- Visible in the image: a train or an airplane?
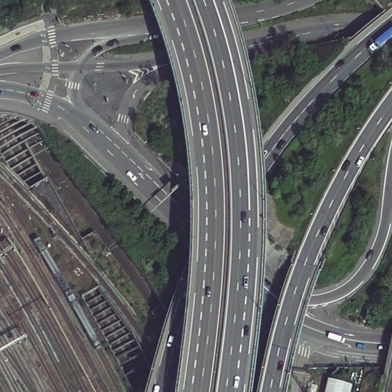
train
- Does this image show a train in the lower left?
Yes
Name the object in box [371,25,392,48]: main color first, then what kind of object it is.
blue truck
